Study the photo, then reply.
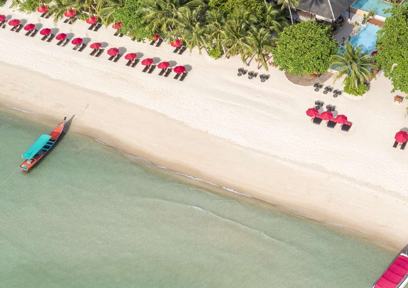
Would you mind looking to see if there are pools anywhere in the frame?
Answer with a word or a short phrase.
Yes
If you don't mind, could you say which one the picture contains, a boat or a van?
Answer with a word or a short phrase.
boat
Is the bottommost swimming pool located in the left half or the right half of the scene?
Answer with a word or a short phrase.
right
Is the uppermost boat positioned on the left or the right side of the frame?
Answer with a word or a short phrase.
left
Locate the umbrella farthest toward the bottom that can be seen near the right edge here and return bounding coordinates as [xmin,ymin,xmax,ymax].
[393,131,408,148]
